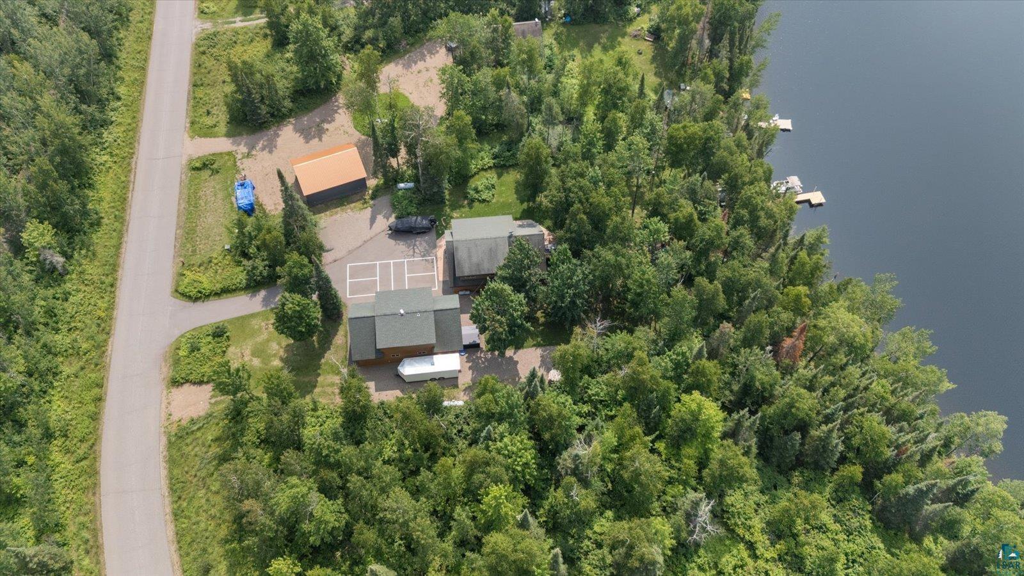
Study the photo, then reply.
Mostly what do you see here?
trees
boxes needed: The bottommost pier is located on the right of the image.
[787,186,826,207]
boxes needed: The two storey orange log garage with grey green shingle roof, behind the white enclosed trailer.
[349,288,464,366]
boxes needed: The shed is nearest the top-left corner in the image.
[291,141,367,204]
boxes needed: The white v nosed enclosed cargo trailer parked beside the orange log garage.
[393,354,464,382]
